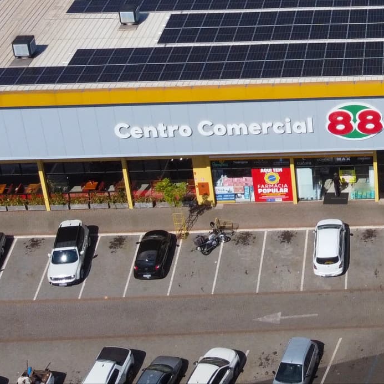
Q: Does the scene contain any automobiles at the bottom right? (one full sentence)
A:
Yes, looking at the bottom right, one can make out an automobile.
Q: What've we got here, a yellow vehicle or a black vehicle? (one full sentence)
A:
The one in the frame is a black vehicle.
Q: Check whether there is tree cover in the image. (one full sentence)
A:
No, no tree cover is visible.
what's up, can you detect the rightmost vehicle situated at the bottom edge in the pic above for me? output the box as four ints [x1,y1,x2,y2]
[268,335,322,384]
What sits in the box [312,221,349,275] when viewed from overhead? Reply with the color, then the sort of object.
white car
